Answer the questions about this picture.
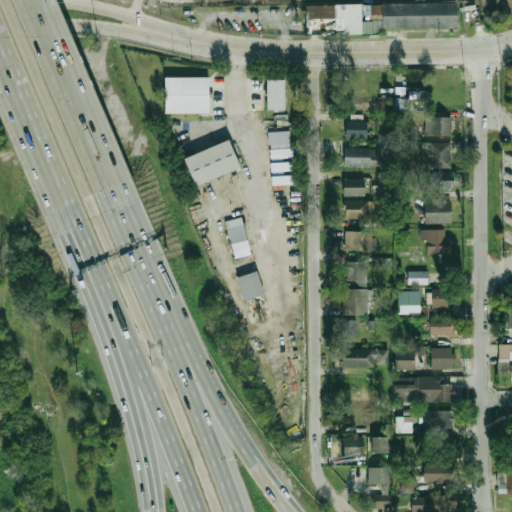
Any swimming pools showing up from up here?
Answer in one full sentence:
No, this view has no swimming pool in it.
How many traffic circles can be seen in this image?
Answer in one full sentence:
I count no traffic circles.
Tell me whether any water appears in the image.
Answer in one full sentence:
No, water can't be seen anywhere here.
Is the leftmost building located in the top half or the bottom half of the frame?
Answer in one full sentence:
The leftmost building sits in the top half of the picture.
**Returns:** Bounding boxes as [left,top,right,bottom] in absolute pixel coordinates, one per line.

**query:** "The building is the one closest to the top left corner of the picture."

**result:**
[165,76,210,114]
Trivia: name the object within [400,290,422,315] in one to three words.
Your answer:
shed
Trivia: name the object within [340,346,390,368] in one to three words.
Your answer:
house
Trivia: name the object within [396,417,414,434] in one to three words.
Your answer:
shed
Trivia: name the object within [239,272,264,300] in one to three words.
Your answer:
building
